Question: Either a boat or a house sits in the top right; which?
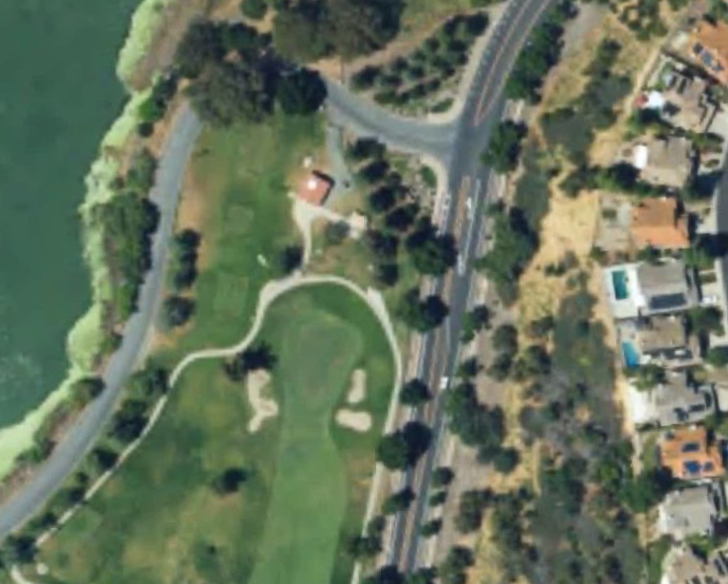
house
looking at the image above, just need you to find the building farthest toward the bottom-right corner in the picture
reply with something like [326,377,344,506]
[664,546,728,584]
